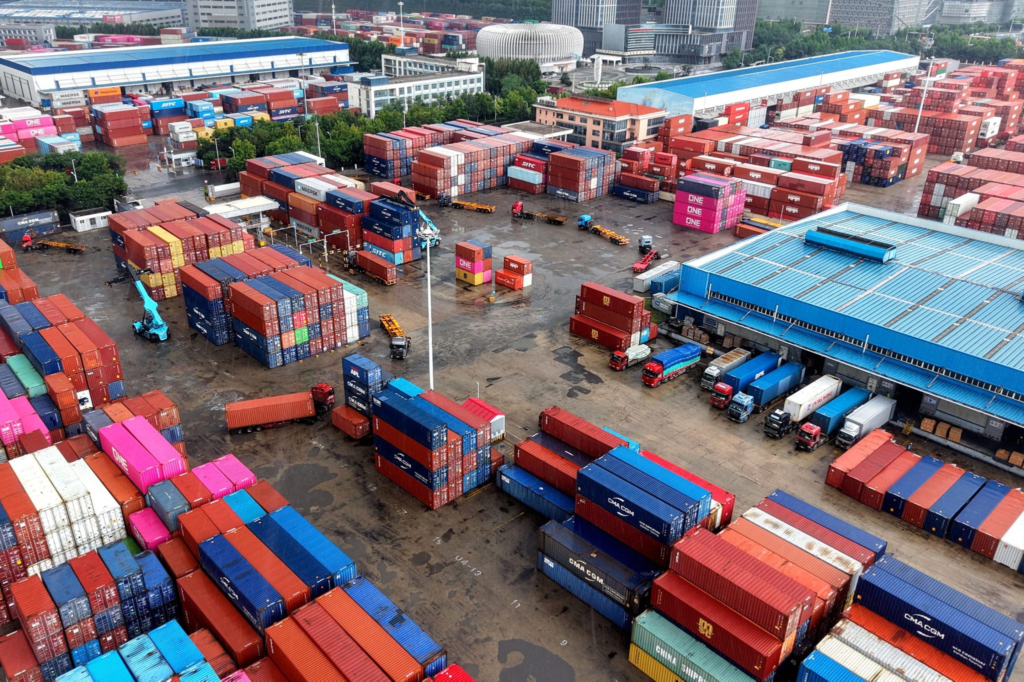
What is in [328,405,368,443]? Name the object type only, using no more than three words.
shipping container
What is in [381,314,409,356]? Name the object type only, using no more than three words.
truck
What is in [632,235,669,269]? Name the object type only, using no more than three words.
truck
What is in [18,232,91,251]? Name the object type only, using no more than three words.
vehicle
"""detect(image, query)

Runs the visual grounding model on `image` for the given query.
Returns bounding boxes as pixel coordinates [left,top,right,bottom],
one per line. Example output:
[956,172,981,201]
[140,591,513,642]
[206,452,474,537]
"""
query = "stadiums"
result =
[471,17,587,64]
